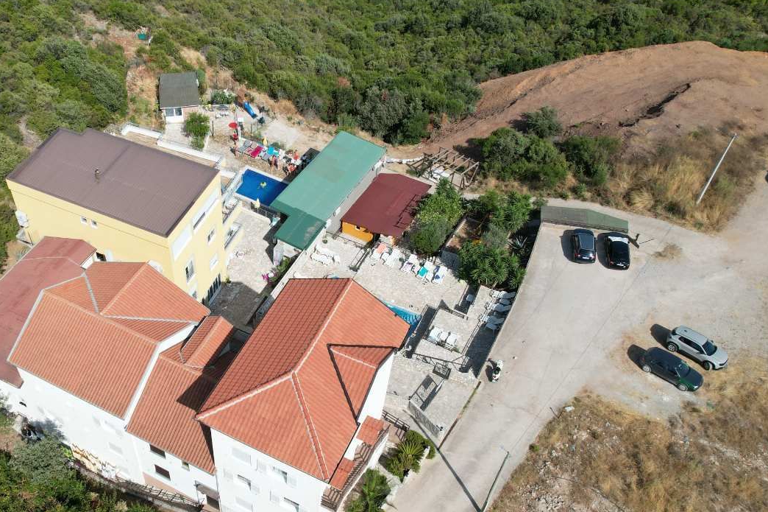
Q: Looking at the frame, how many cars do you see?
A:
4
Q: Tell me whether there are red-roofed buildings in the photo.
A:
Yes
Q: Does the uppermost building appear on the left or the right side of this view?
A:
left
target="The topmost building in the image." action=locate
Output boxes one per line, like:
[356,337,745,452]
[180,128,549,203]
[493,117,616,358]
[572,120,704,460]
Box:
[160,71,199,125]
